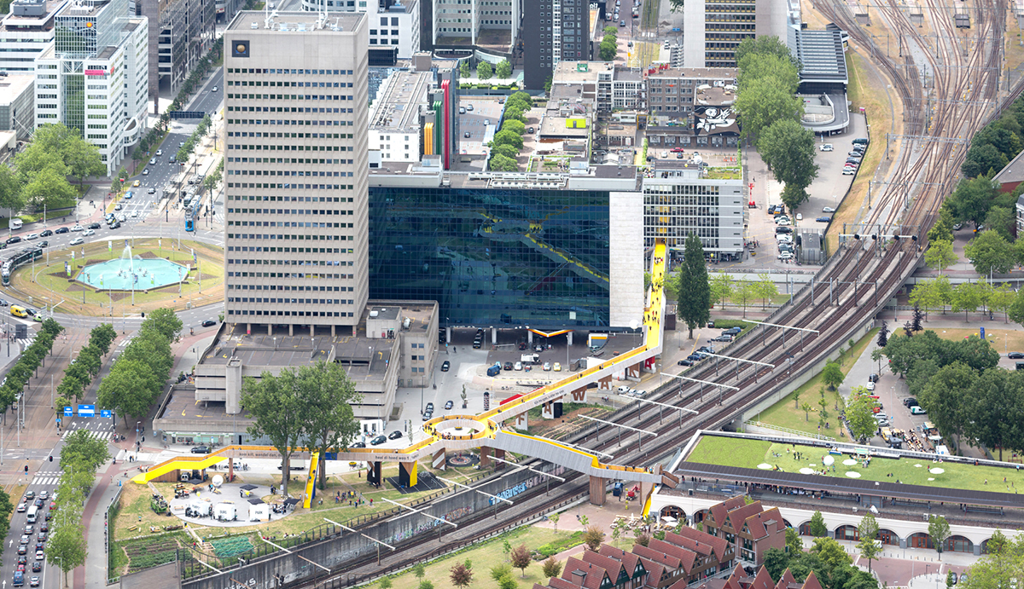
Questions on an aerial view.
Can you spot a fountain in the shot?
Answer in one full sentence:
Yes, the image includes a fountain.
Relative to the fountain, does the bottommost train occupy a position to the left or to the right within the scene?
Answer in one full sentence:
Looking at the photo, the bottommost train lies to the left of the fountain.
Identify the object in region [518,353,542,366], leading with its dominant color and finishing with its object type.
white vehicle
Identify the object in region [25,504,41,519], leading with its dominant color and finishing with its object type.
white vehicle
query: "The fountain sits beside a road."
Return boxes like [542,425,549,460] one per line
[72,235,188,294]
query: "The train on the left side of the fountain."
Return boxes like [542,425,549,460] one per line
[0,234,44,290]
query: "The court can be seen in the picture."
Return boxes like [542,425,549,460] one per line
[388,472,447,494]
